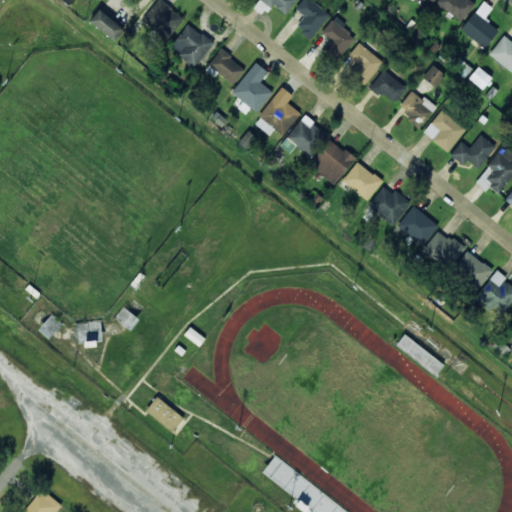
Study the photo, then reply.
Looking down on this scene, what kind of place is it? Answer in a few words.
sports ground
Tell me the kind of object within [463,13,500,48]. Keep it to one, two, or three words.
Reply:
house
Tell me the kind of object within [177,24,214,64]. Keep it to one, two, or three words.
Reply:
house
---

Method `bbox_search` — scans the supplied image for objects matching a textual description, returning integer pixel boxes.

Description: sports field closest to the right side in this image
[228,303,504,512]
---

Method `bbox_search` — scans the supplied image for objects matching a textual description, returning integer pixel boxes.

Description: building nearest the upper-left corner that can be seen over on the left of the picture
[91,10,124,41]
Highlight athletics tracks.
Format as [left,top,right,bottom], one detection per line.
[184,288,512,512]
